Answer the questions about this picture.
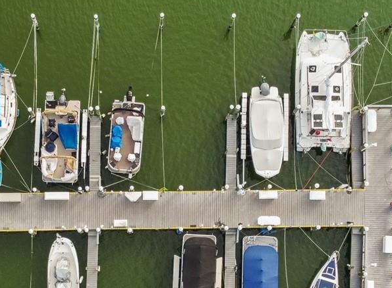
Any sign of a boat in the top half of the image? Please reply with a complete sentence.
Yes, a boat can be seen in the top half of the image.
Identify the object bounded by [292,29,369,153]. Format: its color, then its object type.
white boat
